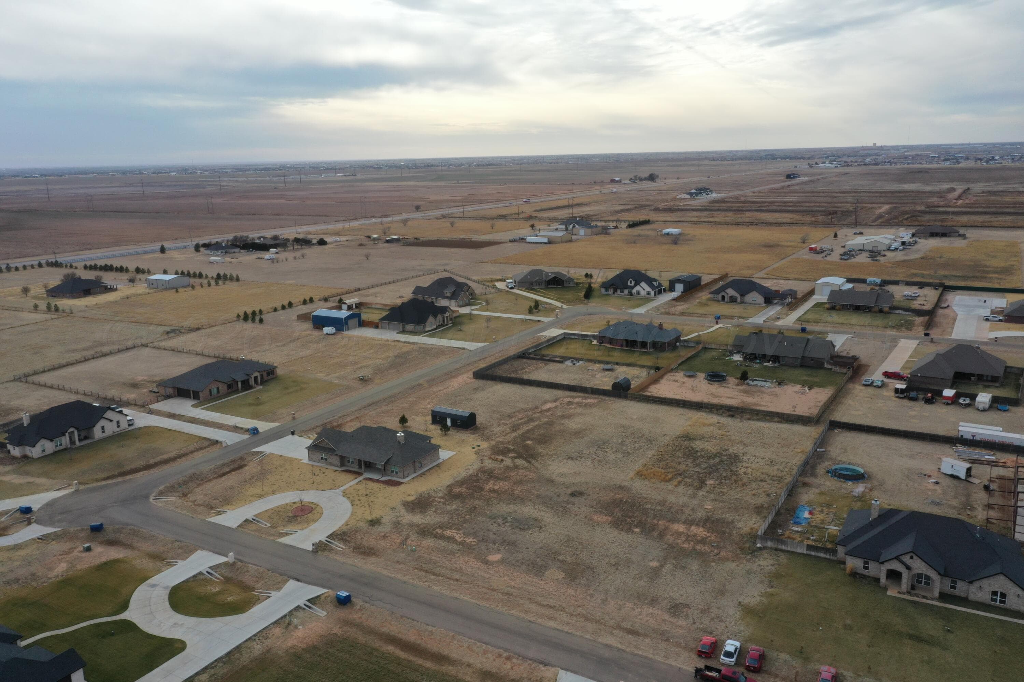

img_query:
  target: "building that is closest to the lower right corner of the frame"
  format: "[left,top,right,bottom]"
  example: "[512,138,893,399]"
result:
[830,490,1024,612]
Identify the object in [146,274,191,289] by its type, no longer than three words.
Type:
shed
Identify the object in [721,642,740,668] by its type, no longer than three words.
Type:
car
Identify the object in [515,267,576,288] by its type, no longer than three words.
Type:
house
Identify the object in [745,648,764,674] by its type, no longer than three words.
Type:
car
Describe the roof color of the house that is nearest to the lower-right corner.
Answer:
black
